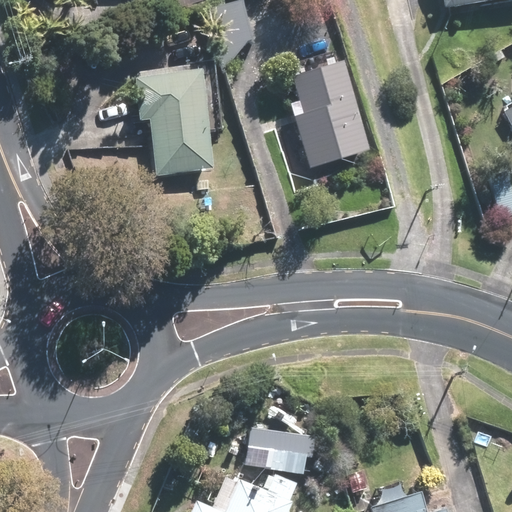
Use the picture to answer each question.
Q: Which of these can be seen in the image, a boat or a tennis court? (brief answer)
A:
boat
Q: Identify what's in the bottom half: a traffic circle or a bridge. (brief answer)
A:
traffic circle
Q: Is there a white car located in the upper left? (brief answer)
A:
Yes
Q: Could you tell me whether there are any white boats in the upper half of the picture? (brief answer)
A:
No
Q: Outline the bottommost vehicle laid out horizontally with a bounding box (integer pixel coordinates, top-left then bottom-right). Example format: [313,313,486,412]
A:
[98,104,127,120]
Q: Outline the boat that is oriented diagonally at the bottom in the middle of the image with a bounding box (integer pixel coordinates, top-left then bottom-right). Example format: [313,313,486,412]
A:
[266,406,306,436]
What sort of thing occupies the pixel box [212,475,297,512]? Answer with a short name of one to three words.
house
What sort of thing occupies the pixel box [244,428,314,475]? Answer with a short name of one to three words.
shed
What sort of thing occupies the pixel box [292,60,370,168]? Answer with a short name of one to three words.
house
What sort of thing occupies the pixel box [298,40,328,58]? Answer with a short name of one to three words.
car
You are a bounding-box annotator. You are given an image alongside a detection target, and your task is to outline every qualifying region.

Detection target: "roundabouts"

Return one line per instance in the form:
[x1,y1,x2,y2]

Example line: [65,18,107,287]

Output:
[47,306,139,398]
